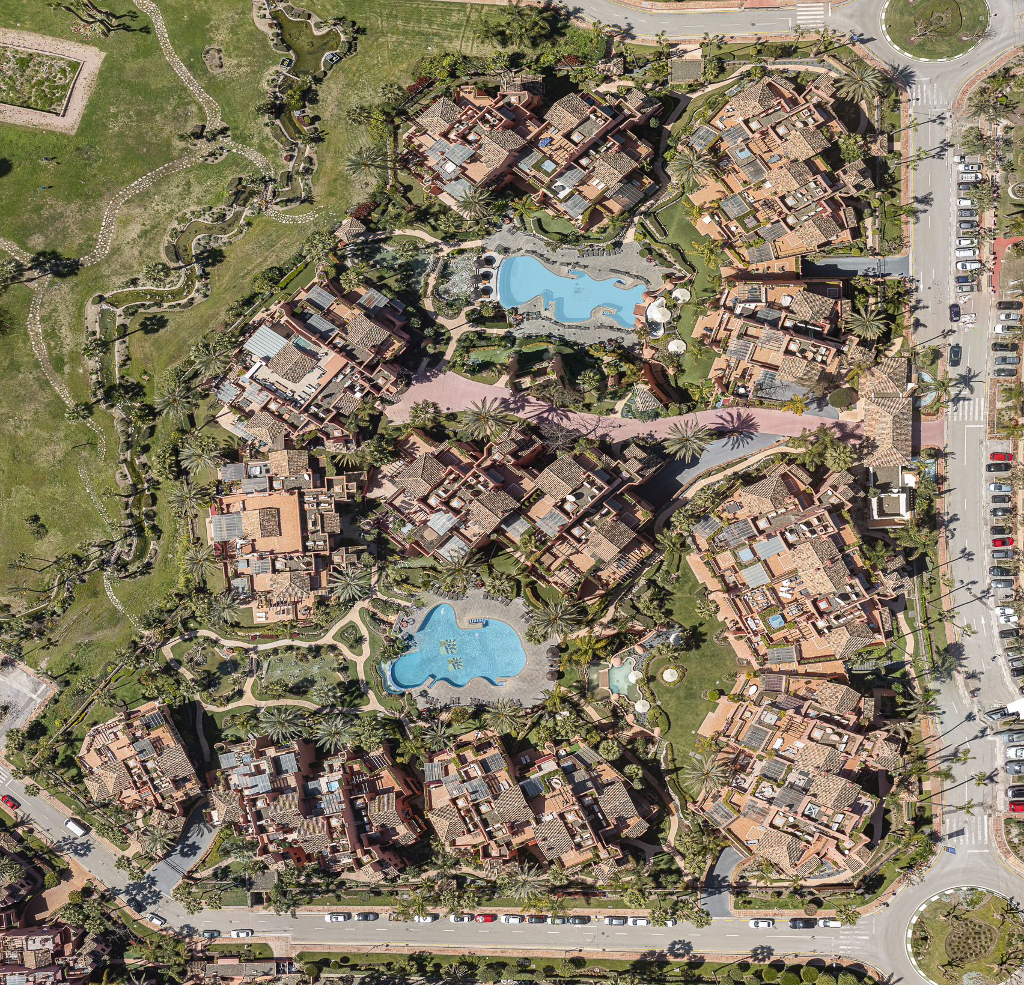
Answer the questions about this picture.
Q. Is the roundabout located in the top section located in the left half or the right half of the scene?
right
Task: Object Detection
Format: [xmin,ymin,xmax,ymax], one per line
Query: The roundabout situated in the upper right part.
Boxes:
[879,0,992,63]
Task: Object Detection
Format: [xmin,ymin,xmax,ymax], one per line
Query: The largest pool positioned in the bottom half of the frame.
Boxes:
[387,602,529,692]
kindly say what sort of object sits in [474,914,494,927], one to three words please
vehicle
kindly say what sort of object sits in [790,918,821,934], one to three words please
vehicle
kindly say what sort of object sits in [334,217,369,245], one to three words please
building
